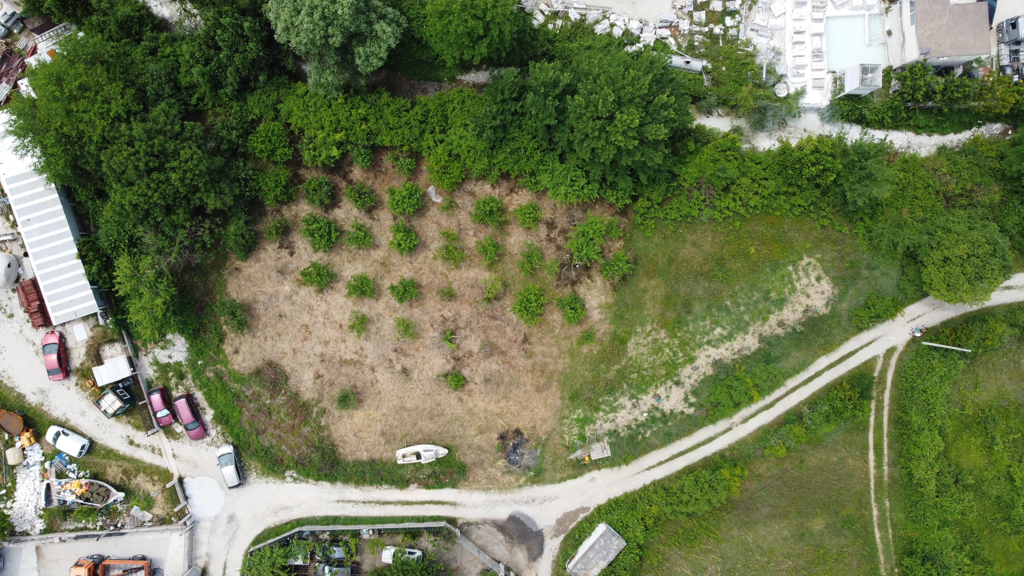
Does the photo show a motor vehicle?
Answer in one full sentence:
Yes, a motor vehicle appears in the view.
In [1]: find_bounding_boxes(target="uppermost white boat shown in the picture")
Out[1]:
[396,444,448,464]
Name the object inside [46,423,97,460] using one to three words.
van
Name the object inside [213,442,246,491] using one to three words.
car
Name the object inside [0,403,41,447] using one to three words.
truck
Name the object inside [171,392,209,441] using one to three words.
car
